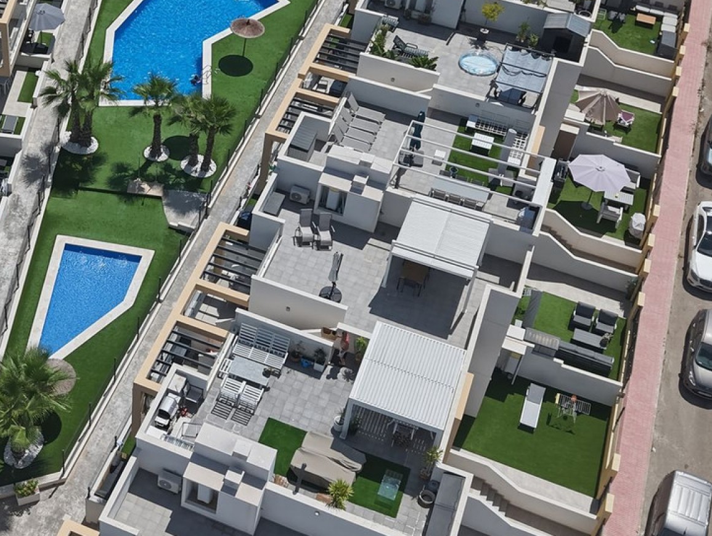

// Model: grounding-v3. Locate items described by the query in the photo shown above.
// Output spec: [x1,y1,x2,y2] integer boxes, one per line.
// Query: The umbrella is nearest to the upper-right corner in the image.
[588,94,643,137]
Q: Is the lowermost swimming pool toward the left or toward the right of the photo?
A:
left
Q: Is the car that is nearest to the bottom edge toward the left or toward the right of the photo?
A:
right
